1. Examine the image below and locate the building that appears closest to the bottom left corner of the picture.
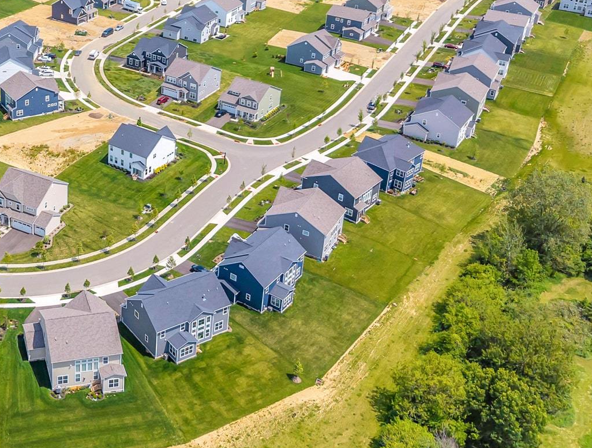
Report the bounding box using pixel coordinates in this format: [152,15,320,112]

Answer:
[24,291,127,395]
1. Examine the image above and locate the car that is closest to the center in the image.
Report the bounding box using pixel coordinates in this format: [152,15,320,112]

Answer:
[189,258,211,273]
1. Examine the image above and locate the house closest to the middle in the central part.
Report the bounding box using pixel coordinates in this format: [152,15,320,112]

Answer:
[262,189,346,260]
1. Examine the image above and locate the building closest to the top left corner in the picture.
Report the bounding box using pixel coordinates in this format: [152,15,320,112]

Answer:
[0,21,40,57]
